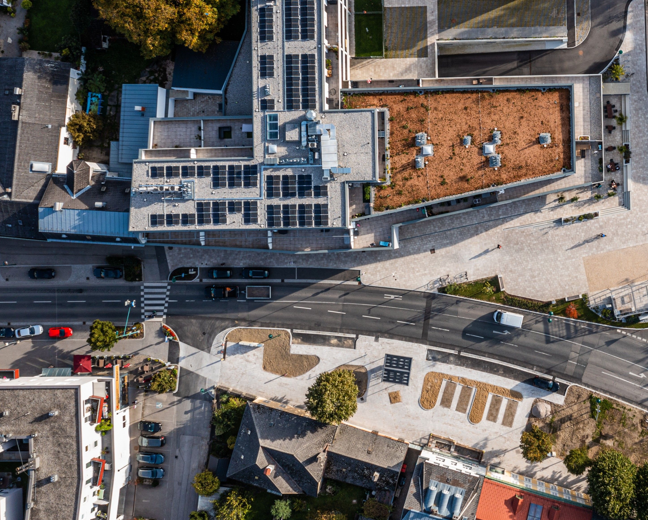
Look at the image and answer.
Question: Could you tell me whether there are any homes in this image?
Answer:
Yes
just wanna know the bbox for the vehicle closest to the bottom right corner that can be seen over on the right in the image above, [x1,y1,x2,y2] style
[533,375,560,394]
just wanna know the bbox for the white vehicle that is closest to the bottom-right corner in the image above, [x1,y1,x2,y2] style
[491,311,522,327]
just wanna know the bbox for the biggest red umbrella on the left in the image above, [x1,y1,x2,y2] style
[73,355,92,372]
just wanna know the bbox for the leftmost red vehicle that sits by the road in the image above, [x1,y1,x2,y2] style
[47,325,74,339]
